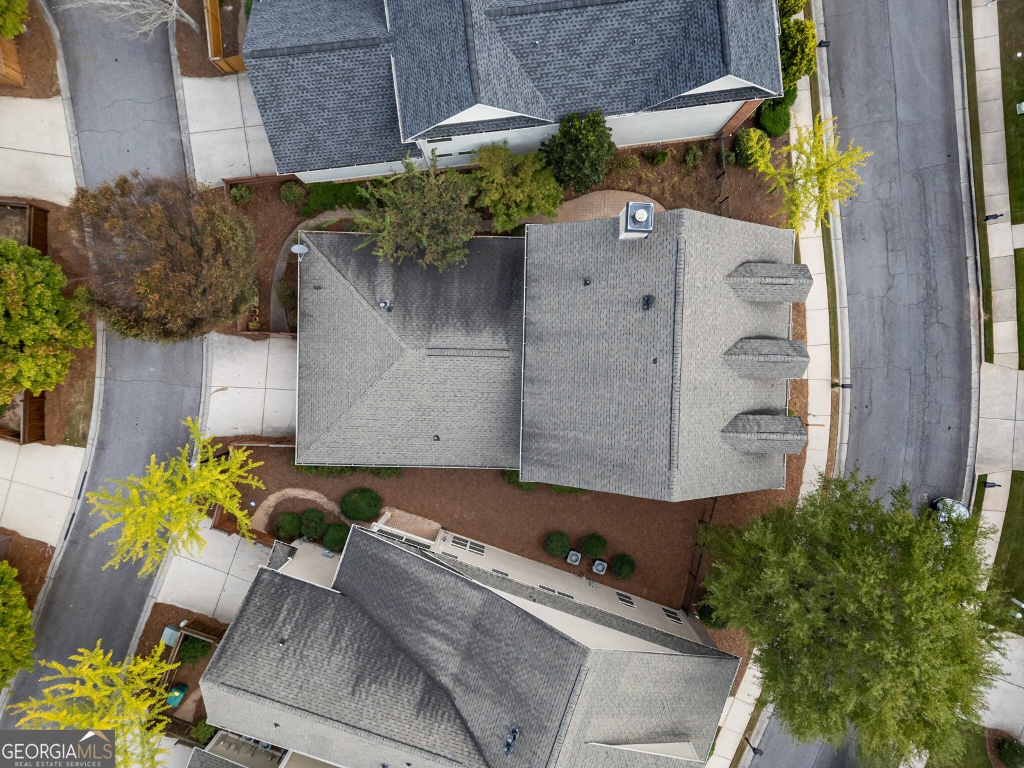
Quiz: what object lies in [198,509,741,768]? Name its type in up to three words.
house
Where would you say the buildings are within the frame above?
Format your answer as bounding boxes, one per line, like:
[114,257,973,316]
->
[198,509,741,768]
[242,0,786,184]
[291,202,816,501]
